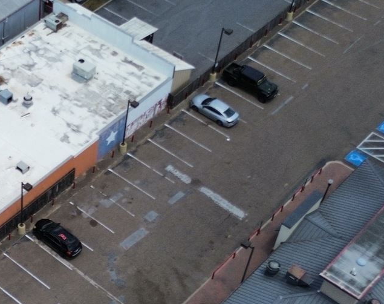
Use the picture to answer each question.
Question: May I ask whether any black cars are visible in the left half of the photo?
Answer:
Yes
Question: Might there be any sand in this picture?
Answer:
No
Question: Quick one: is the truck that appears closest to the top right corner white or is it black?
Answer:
black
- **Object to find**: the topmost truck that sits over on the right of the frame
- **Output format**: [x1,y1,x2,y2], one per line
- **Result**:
[221,59,284,99]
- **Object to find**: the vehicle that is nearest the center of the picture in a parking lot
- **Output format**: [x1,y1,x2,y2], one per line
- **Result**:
[189,90,242,127]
